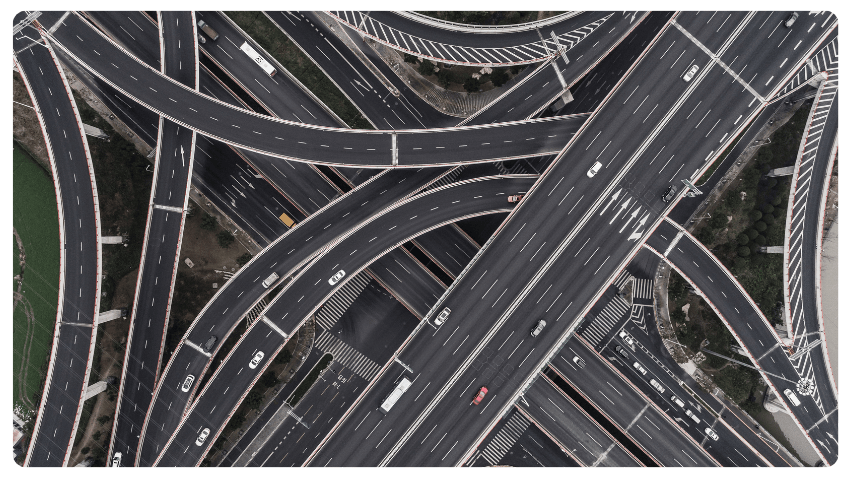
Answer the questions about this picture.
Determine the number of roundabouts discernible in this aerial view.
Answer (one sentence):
The photo contains no roundabouts.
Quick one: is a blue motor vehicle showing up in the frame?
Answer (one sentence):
No, the picture doesn't show any blue motor vehicle.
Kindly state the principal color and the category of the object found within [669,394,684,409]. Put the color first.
white car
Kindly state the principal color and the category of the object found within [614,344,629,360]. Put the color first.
gray car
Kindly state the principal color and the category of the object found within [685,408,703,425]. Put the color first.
white vehicle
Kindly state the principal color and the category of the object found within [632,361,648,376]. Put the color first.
white car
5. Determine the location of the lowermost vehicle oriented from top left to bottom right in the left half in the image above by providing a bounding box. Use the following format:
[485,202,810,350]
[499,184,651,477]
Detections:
[277,210,299,229]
